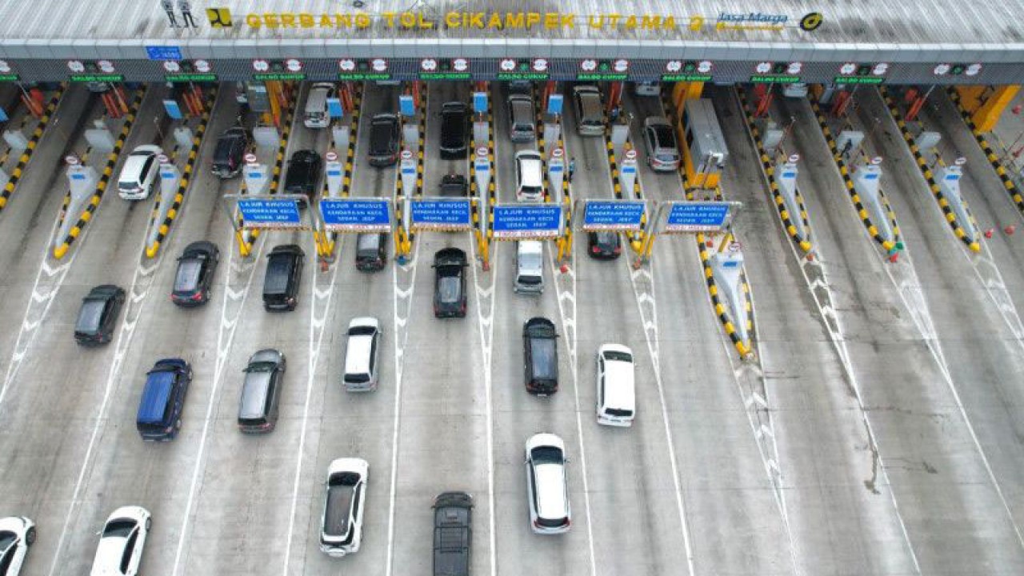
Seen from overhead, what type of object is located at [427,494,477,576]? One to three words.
car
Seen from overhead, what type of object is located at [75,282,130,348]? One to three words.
car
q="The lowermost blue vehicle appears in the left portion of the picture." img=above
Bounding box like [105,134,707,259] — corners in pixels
[136,358,194,443]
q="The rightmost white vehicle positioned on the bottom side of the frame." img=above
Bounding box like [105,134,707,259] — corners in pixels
[593,345,637,428]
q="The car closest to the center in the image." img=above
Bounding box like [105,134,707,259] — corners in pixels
[510,240,546,294]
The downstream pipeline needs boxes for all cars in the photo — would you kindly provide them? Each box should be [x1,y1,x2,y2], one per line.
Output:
[169,239,222,308]
[641,119,677,172]
[518,317,561,398]
[369,113,399,168]
[342,317,383,394]
[210,124,253,179]
[772,81,804,98]
[261,243,307,313]
[512,151,545,202]
[320,457,371,558]
[435,171,471,230]
[432,247,470,319]
[282,150,322,209]
[119,146,158,200]
[586,231,622,263]
[90,506,154,576]
[510,240,546,294]
[376,78,401,88]
[355,213,391,271]
[300,78,336,129]
[593,345,637,428]
[572,85,606,137]
[75,282,130,348]
[237,348,288,436]
[136,358,194,443]
[505,93,536,143]
[524,433,572,536]
[628,80,657,97]
[436,102,470,159]
[427,494,477,576]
